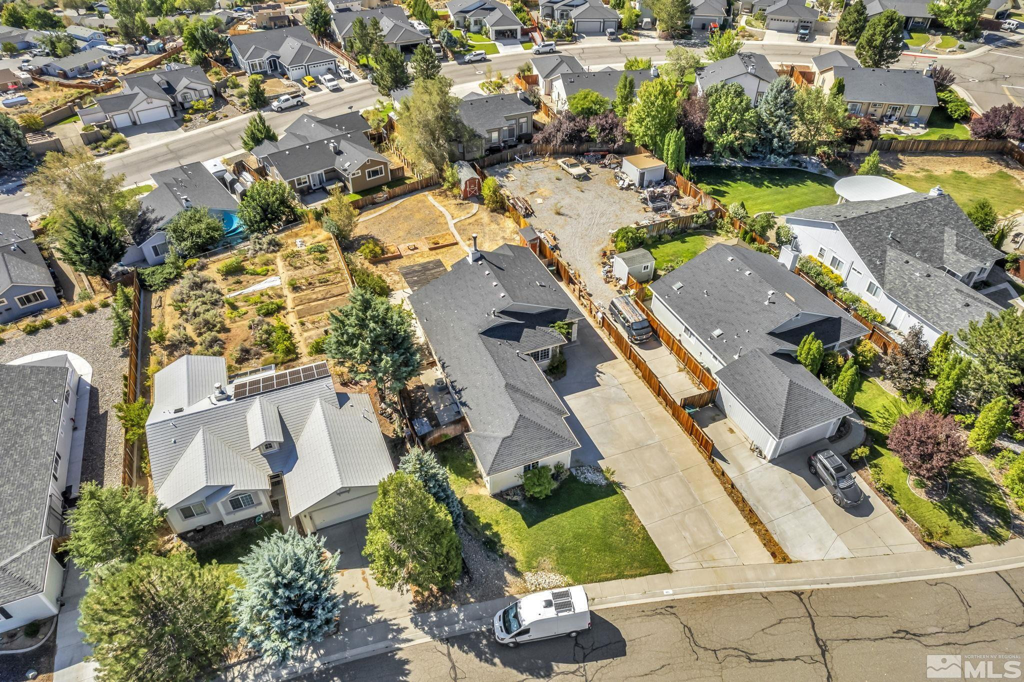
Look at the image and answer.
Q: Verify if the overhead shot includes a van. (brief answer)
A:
Yes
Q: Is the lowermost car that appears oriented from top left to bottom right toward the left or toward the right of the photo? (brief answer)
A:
right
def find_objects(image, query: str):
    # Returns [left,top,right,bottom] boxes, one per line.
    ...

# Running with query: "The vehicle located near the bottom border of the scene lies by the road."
[489,582,594,648]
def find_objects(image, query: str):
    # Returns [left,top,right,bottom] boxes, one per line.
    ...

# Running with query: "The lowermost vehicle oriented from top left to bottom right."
[810,450,868,511]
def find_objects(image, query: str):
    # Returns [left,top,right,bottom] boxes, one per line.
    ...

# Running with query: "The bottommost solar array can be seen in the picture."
[221,359,330,400]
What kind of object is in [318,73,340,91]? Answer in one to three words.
vehicle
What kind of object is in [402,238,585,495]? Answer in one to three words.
house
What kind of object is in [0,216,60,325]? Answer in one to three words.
house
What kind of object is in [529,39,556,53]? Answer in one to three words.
car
